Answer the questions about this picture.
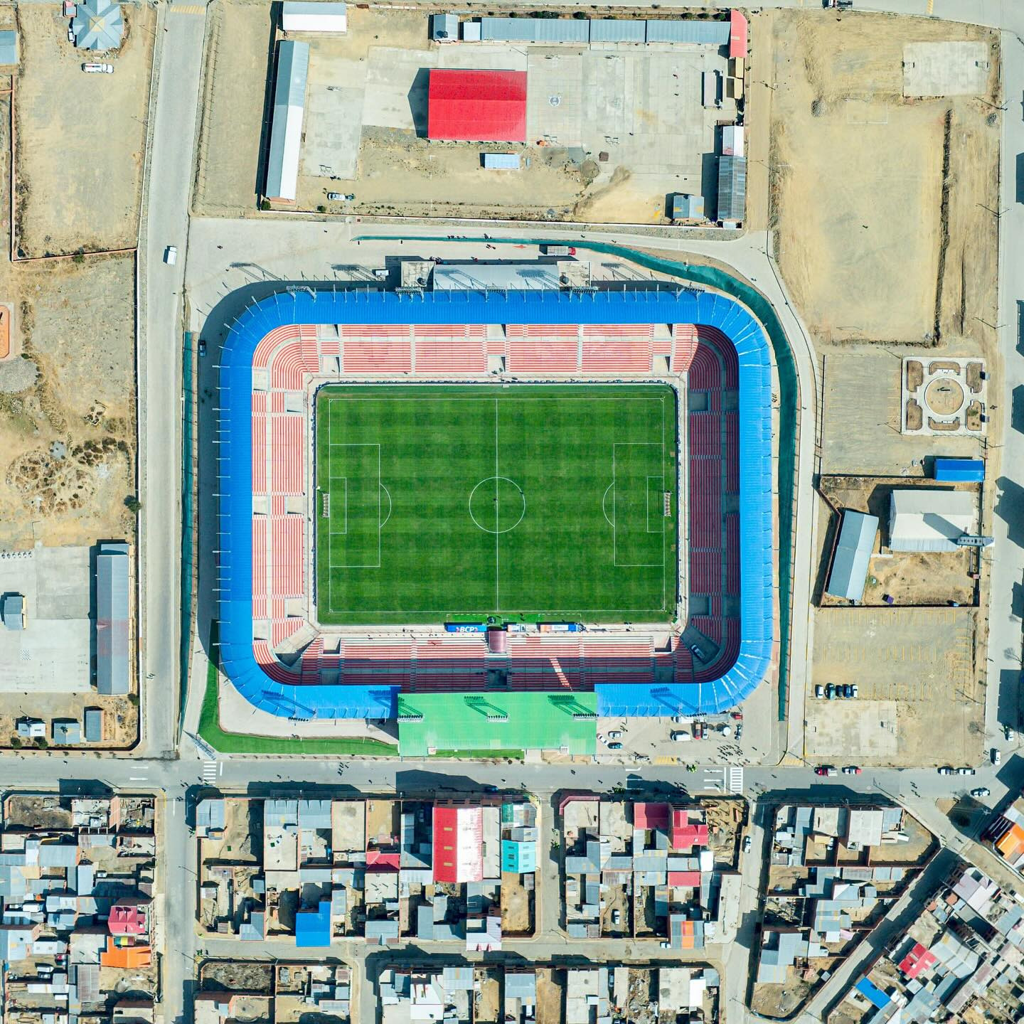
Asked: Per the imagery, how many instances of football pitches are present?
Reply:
2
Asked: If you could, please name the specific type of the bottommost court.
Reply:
basketball court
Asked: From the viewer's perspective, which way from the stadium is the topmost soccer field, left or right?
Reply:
to the right of it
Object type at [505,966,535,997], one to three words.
house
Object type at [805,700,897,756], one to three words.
basketball court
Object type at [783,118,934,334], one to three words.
soccer field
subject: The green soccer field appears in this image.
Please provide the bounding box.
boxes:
[317,384,677,625]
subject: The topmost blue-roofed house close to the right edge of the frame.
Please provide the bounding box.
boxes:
[929,459,986,482]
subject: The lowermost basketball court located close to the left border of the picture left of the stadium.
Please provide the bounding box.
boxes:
[0,547,90,692]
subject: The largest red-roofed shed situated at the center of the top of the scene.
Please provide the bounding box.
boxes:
[428,70,526,149]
